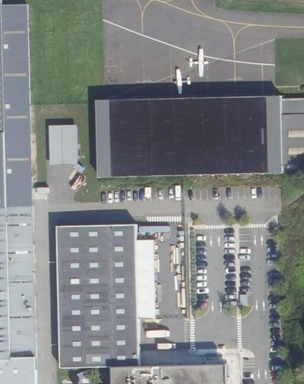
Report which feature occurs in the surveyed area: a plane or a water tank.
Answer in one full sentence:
I can see a plane in this picture.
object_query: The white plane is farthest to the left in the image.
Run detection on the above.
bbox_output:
[174,68,192,94]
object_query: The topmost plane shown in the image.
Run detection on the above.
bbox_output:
[188,48,208,76]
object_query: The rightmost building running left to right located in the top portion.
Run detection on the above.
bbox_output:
[94,94,284,178]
